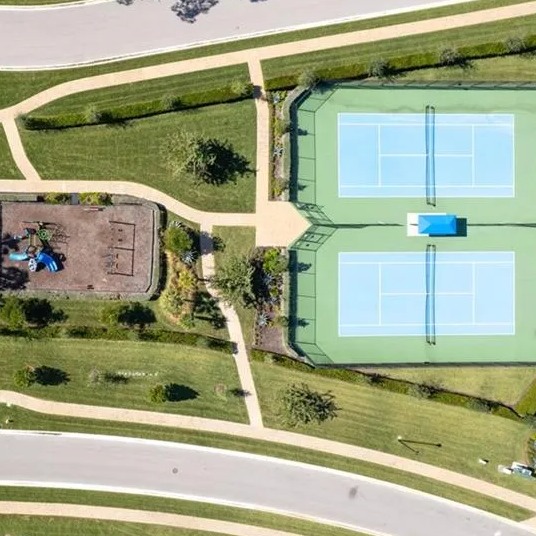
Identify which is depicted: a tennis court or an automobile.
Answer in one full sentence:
It is a tennis court that can be seen here.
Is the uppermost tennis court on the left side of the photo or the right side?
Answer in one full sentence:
You can find the uppermost tennis court on the right side of the picture.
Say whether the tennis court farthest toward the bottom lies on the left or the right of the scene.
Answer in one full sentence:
It is on the right.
